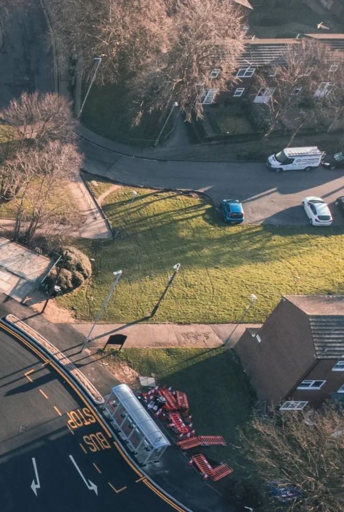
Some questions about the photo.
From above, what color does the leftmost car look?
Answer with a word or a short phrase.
blue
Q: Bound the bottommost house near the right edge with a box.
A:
[229,294,344,404]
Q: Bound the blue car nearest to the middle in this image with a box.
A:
[222,194,248,226]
